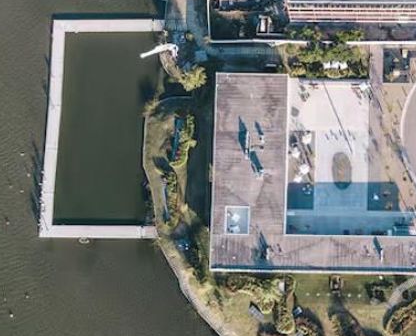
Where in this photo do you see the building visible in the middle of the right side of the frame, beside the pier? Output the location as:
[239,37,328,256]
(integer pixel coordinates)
[211,71,416,271]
